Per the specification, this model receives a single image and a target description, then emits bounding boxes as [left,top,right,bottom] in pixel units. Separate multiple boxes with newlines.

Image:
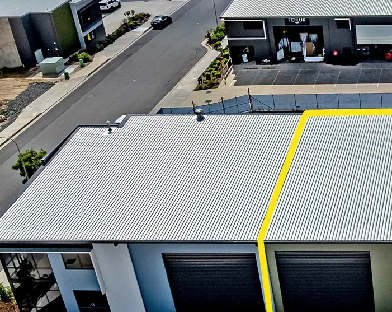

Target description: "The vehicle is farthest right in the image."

[152,12,179,26]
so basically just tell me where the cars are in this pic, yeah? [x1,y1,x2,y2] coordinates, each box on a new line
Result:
[101,0,126,12]
[152,12,179,26]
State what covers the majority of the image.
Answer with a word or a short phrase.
buildings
